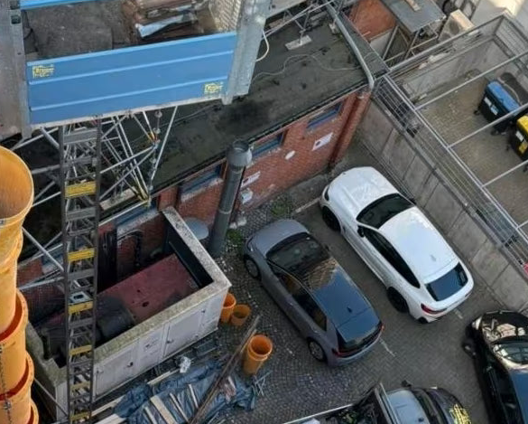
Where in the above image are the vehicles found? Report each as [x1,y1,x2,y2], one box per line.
[456,313,528,424]
[245,219,388,378]
[276,366,478,424]
[310,168,471,332]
